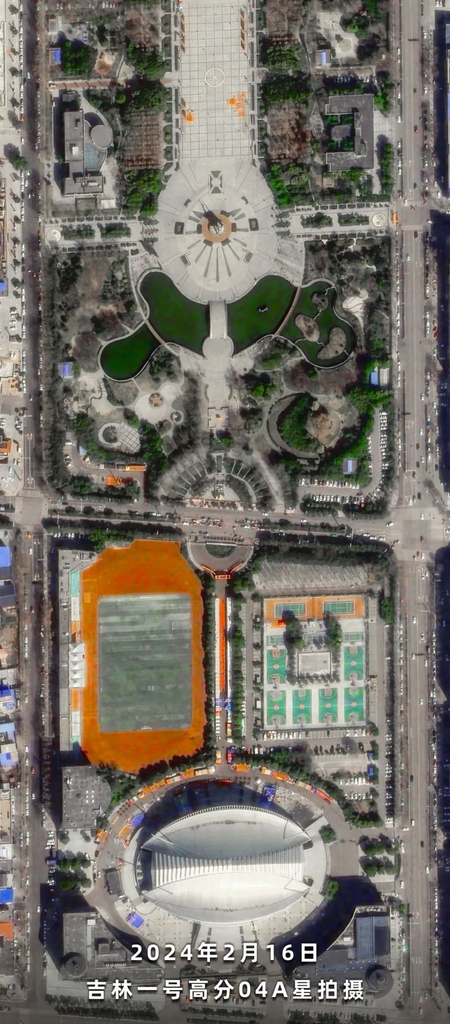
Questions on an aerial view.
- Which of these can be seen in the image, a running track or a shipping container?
running track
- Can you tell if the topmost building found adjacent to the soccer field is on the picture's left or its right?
left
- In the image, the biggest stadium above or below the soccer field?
below it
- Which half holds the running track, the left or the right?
left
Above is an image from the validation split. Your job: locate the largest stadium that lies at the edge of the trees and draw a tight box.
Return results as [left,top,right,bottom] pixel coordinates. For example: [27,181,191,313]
[133,804,313,929]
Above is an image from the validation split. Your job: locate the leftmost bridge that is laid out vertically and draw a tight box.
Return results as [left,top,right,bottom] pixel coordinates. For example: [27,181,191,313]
[209,300,227,338]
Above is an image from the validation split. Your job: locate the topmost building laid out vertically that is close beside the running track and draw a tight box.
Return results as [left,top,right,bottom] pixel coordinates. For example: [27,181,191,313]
[58,550,96,751]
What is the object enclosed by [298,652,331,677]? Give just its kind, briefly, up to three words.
sports court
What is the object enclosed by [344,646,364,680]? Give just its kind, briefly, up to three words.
basketball court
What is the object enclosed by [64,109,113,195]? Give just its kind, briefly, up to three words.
building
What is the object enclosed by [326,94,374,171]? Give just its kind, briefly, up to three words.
building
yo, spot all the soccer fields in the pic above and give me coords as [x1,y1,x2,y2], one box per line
[99,594,191,732]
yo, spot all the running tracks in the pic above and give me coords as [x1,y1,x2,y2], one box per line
[81,540,207,773]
